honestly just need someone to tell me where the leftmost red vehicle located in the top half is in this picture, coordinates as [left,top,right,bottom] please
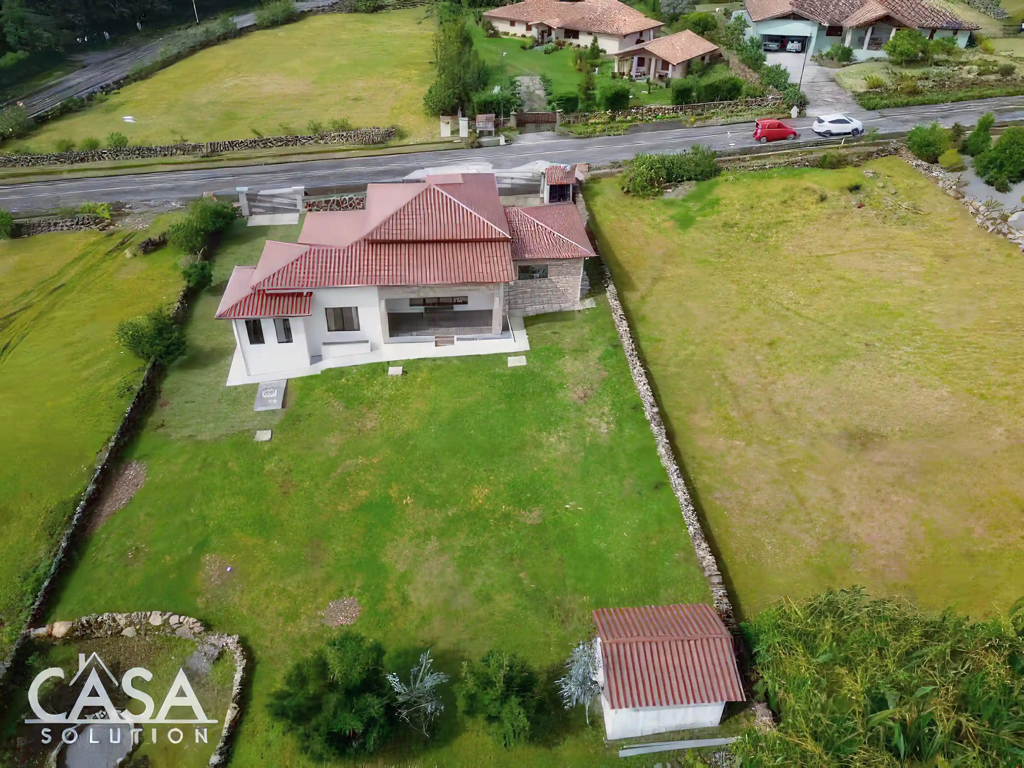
[753,119,802,143]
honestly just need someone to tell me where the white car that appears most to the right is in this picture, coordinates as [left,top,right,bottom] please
[814,114,871,138]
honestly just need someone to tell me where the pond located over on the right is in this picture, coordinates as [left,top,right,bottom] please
[961,143,1024,219]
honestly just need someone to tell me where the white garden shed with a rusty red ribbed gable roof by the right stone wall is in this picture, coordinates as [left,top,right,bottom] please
[586,602,748,744]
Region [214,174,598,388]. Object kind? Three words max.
house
